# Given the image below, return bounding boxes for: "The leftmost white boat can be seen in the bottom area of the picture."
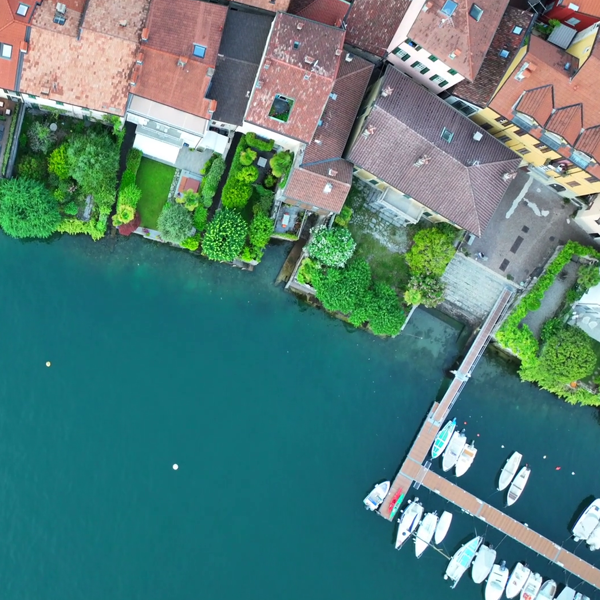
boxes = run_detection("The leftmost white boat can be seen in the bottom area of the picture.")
[364,480,391,509]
